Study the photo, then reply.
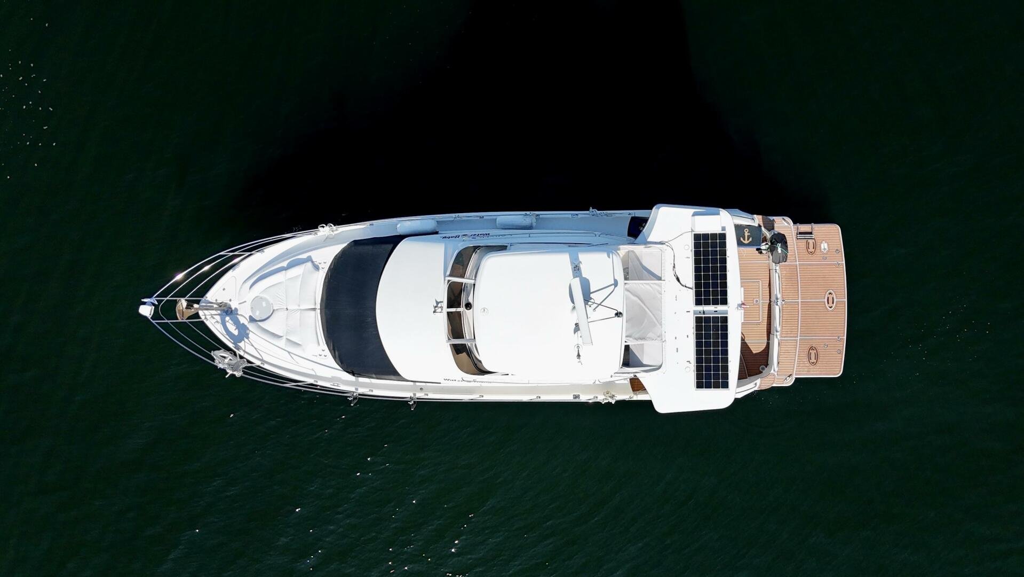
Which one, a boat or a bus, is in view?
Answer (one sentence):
The image shows a boat.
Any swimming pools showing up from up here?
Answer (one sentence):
No, the photo shows no swimming pool.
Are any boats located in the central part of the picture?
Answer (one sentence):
Yes, looking in the central part of the picture, one can make out a boat.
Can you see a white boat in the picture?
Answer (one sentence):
Yes, I can see a white boat in this picture.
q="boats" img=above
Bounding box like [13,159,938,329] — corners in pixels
[139,205,846,412]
